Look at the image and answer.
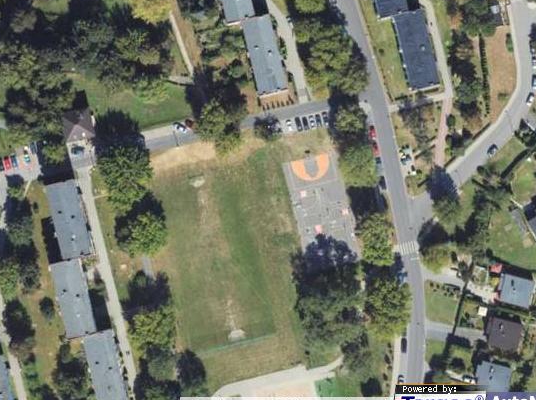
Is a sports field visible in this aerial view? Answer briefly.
Yes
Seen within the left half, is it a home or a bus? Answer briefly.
home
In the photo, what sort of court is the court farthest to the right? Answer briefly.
basketball court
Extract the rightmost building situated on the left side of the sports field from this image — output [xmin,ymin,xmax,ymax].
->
[83,331,128,400]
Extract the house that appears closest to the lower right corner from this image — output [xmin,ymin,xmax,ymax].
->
[473,361,513,399]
